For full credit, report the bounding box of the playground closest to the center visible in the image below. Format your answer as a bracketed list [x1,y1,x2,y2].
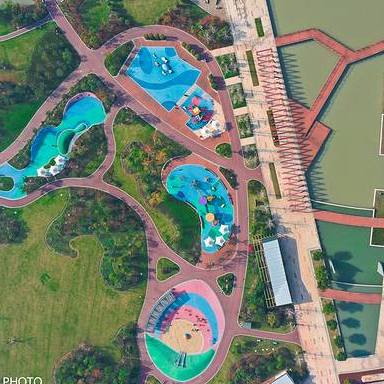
[166,164,235,254]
